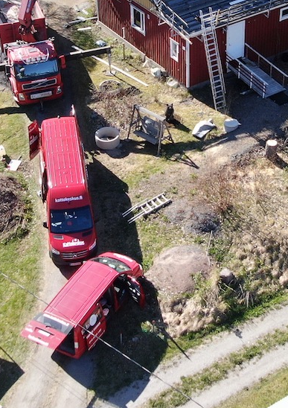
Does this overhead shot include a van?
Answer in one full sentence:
Yes, the image includes a van.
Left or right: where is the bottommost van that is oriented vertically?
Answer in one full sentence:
The bottommost van that is oriented vertically is on the left side of the image.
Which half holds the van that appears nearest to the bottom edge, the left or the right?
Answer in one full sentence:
The van that appears nearest to the bottom edge appears in the left half of the scene.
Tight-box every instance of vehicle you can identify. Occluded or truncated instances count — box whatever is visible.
[23,113,100,259]
[20,255,145,352]
[0,0,114,110]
